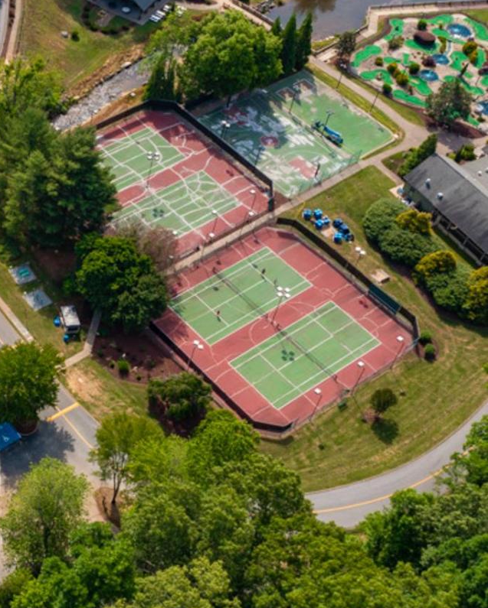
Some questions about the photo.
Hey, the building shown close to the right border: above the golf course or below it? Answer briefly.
below it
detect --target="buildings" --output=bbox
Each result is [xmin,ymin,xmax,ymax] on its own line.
[406,156,488,255]
[92,0,178,30]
